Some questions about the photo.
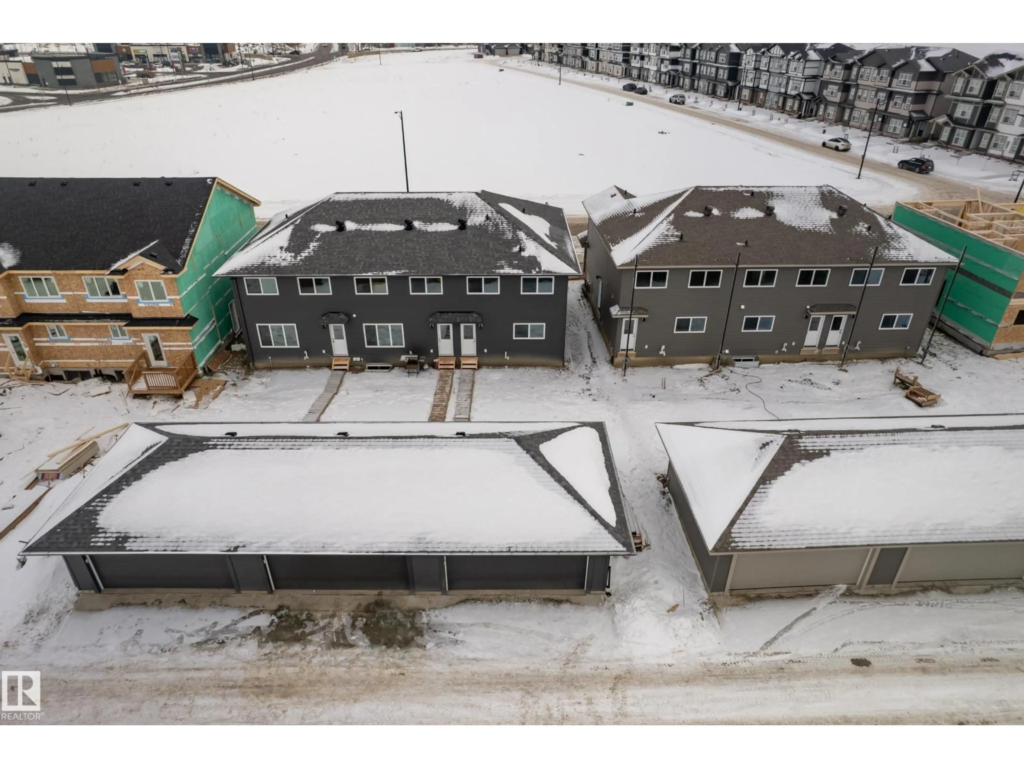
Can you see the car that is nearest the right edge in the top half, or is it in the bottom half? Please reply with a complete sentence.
The car that is nearest the right edge is in the top half of the image.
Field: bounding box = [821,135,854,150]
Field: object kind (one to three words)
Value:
car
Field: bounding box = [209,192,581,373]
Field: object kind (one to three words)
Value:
house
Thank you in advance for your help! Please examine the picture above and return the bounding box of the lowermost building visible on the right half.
[654,412,1024,604]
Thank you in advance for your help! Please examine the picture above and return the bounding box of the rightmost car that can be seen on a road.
[896,153,938,173]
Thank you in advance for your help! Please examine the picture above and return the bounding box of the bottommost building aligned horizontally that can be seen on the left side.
[16,420,636,611]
